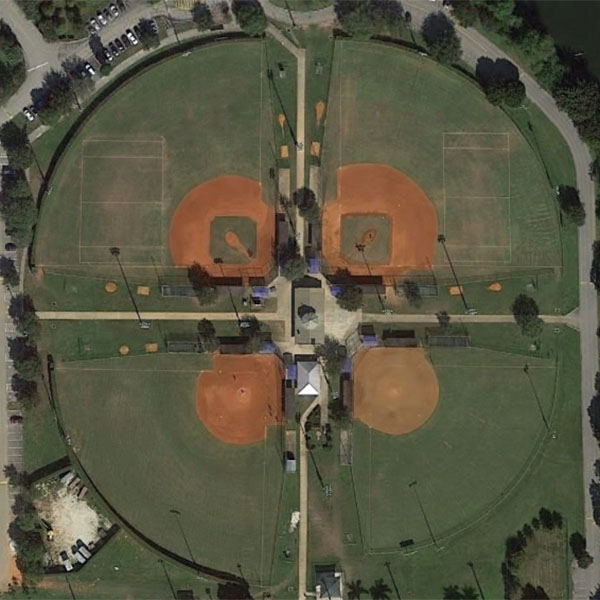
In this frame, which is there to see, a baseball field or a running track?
baseball field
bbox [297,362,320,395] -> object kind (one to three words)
building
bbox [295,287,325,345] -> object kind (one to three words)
building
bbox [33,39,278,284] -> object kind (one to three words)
baseball field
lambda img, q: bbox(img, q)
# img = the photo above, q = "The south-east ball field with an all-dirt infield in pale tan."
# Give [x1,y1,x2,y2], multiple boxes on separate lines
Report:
[351,346,557,553]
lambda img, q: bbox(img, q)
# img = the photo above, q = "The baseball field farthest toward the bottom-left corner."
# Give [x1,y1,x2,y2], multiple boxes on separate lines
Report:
[49,353,285,588]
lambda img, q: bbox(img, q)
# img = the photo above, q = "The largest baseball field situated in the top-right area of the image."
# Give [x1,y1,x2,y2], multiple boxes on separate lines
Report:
[320,39,562,284]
